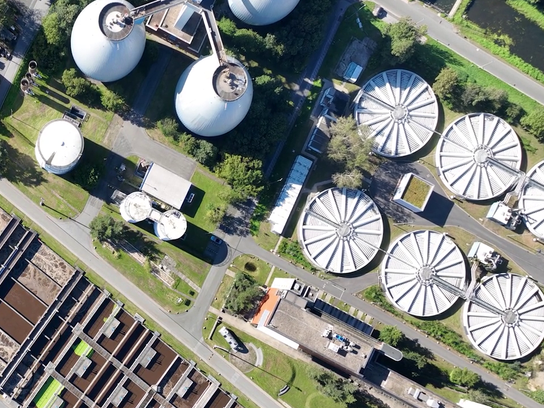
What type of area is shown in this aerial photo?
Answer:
industrial area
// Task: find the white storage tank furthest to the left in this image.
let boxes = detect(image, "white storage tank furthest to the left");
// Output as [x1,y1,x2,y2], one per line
[33,116,83,174]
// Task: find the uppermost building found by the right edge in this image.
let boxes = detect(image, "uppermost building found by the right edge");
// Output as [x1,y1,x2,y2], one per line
[484,202,525,226]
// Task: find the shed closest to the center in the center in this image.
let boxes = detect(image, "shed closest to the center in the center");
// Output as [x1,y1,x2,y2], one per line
[267,156,313,238]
